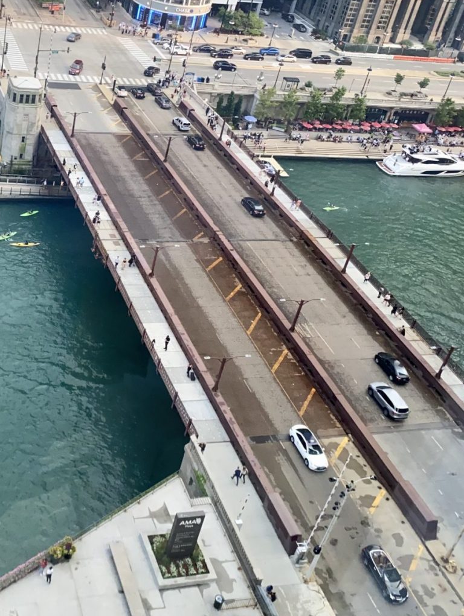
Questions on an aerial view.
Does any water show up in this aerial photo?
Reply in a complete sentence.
Yes, water shows up in the scene.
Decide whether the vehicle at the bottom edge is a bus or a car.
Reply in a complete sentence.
The vehicle at the bottom edge in the image is a car.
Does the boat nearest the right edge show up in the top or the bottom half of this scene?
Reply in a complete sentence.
The boat nearest the right edge sits in the top half of the picture.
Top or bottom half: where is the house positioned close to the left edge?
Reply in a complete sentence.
The top half of the photo is where the house positioned close to the left edge is.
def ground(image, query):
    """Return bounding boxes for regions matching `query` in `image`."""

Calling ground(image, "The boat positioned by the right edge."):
[378,144,464,177]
